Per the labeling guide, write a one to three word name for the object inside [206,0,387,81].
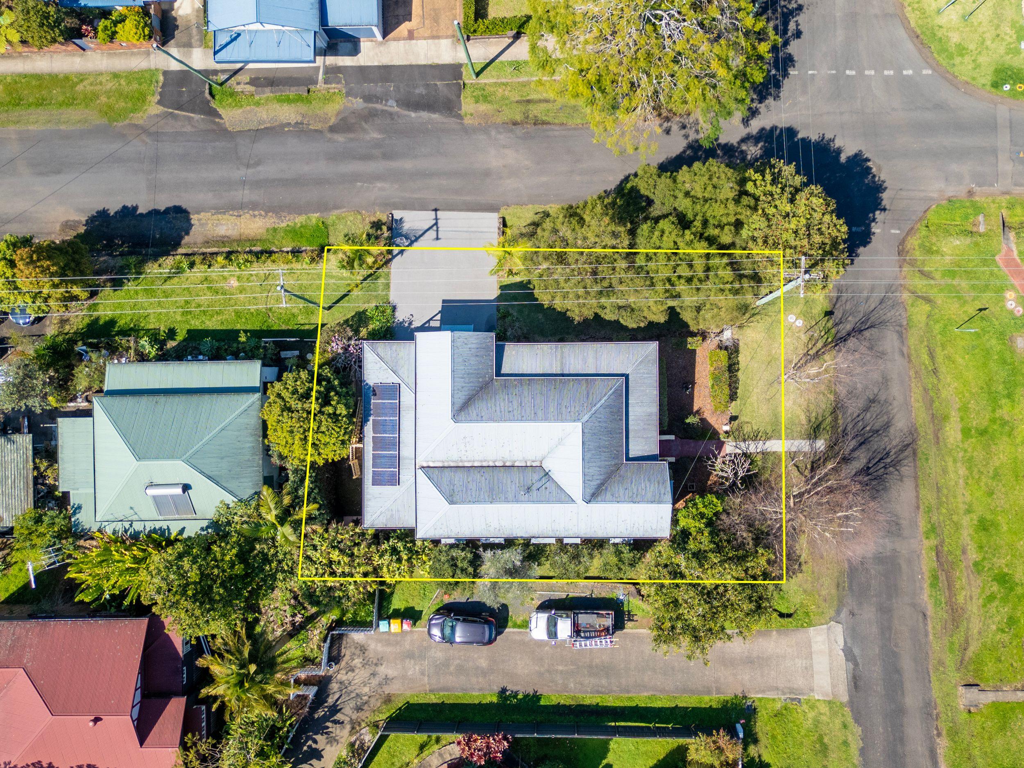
building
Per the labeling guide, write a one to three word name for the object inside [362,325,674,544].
house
